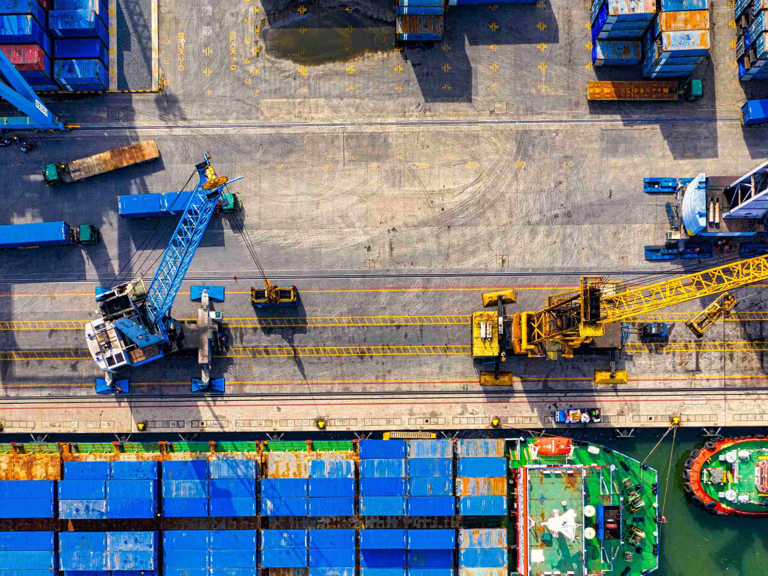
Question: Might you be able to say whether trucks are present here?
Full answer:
Yes, a truck is visible in the scene.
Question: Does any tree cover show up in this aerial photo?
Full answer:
No, the scene doesn't show any tree cover.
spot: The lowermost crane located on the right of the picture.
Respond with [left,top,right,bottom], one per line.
[469,251,768,386]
